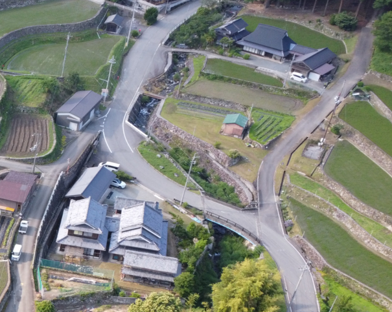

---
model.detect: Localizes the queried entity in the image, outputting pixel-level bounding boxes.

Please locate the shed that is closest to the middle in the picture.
[221,111,247,137]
